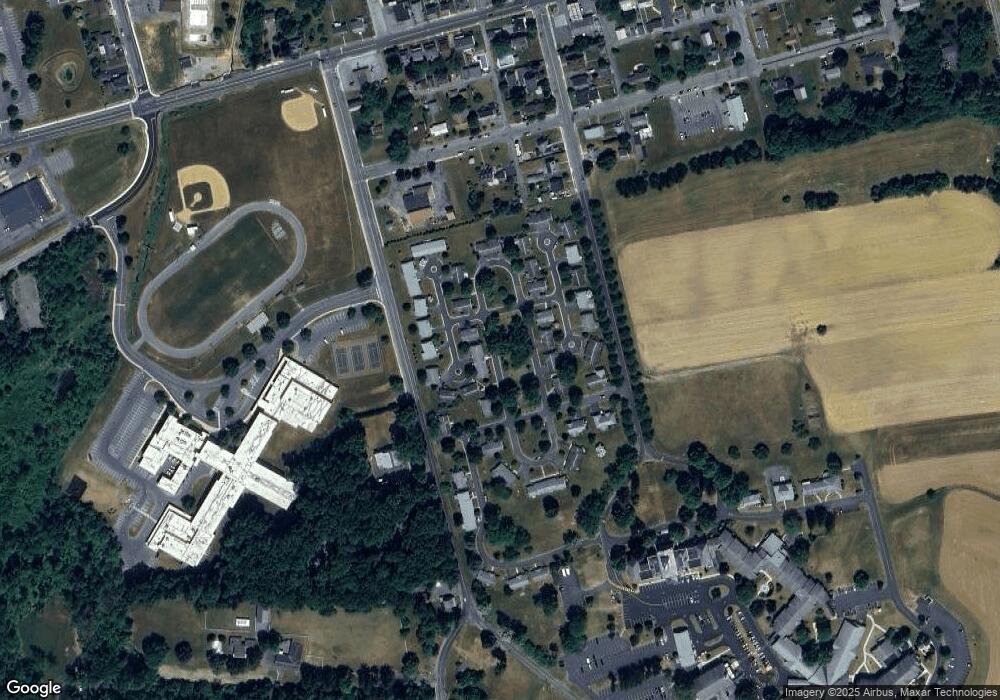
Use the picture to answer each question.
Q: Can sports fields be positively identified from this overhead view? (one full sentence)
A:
Yes, the image includes a sports field.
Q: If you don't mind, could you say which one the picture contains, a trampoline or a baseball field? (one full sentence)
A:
This aerial view contains a baseball field.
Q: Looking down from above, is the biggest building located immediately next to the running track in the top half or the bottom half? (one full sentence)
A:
The biggest building located immediately next to the running track is in the bottom half of the image.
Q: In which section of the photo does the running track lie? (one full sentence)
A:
You can find the running track in the left area of the picture.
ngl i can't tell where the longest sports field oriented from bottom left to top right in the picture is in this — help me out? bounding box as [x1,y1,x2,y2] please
[147,212,296,347]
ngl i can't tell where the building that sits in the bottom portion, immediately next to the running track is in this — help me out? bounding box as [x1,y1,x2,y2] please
[138,356,339,566]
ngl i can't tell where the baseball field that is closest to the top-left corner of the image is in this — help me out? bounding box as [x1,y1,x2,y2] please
[174,165,229,226]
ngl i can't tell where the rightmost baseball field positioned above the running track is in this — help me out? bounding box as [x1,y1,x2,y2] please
[281,89,323,131]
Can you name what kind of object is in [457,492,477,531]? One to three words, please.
house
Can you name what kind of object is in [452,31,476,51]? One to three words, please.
house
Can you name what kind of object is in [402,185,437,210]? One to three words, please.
building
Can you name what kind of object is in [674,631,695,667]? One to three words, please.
building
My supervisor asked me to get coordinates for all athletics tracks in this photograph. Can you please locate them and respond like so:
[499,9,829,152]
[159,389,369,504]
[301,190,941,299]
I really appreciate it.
[136,200,308,358]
